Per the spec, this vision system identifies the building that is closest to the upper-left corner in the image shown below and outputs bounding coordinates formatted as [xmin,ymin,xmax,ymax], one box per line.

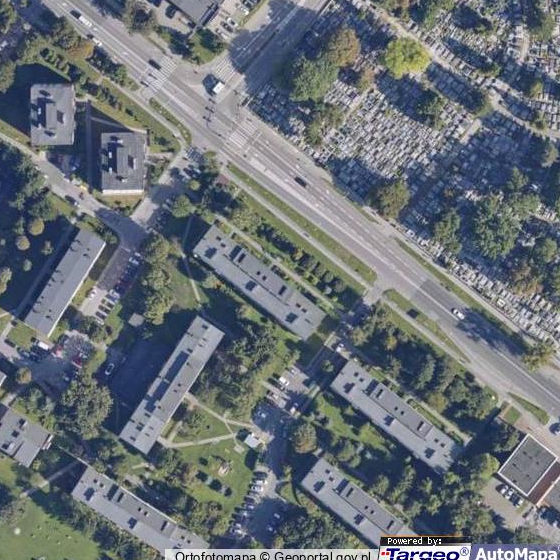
[30,84,76,149]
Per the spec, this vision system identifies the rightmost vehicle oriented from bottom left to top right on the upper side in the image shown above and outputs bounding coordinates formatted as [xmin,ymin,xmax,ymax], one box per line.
[210,80,225,94]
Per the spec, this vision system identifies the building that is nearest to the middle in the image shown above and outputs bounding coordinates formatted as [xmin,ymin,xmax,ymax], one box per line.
[192,224,325,343]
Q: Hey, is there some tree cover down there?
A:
Yes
